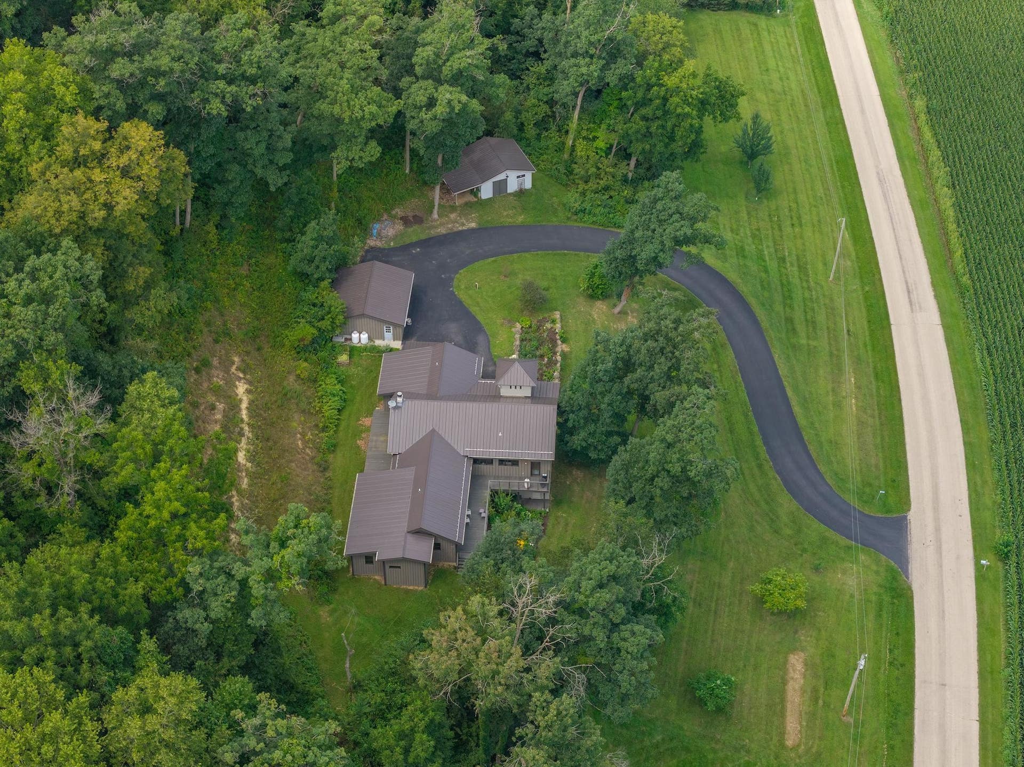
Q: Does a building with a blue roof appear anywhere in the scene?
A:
No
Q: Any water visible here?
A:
No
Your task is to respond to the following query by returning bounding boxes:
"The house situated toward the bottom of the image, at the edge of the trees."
[343,341,558,585]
